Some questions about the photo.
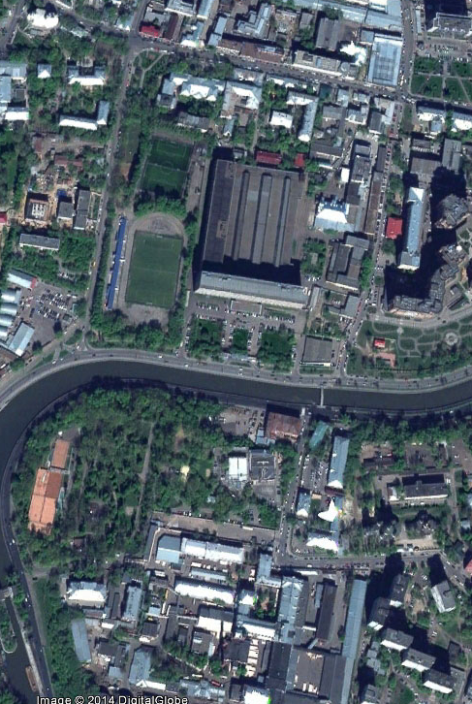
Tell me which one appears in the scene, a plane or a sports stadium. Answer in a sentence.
I can see a sports stadium in this picture.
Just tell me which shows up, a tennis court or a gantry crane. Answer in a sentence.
Looking from above, you can make out a tennis court.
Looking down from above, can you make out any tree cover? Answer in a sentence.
Yes, some tree cover is visible.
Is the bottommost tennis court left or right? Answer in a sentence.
The bottommost tennis court is on the left side of the image.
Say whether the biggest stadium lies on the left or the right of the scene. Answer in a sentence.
The biggest stadium is on the left side of the image.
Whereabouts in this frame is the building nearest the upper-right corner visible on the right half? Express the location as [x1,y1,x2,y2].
[432,14,472,40]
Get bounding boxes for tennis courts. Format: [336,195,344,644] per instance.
[50,439,70,470]
[28,466,61,534]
